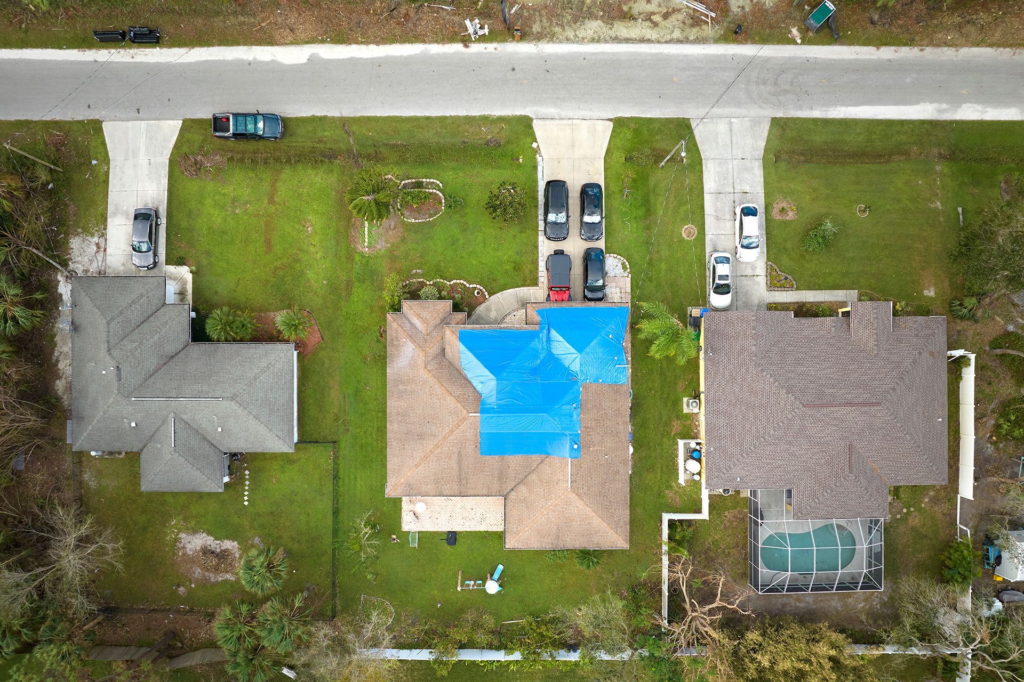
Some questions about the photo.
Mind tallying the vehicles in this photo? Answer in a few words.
8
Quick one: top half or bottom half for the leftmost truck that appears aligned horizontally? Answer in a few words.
top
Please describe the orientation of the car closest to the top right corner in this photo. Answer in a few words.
from top to bottom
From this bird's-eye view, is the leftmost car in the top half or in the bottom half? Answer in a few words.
top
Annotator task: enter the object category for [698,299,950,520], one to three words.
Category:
house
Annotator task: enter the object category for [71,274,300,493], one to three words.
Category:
house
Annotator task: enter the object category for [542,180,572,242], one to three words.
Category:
car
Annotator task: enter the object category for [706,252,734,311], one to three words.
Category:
car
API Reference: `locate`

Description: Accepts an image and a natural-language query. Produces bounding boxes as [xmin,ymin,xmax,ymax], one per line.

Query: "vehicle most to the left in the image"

[129,207,162,269]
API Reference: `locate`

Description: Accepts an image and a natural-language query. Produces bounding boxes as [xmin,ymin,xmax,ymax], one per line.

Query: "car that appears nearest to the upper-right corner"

[731,203,762,263]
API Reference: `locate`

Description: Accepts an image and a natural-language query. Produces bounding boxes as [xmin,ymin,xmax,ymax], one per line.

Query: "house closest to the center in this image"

[385,298,631,551]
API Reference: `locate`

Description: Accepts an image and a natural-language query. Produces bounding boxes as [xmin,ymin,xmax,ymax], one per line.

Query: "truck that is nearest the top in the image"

[210,109,285,142]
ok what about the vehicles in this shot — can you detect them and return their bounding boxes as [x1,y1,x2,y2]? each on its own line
[542,180,572,242]
[210,109,285,142]
[580,246,609,300]
[731,203,762,263]
[578,183,607,243]
[546,247,572,300]
[129,207,162,269]
[706,252,734,311]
